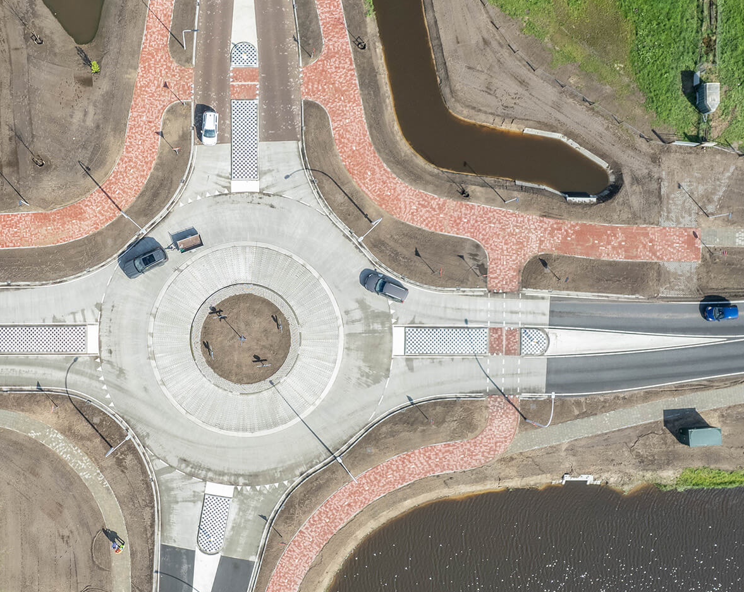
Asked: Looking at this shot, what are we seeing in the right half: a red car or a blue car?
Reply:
blue car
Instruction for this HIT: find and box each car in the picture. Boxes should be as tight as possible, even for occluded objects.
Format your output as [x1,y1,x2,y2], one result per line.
[199,108,220,146]
[124,249,172,281]
[704,303,742,322]
[367,274,412,304]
